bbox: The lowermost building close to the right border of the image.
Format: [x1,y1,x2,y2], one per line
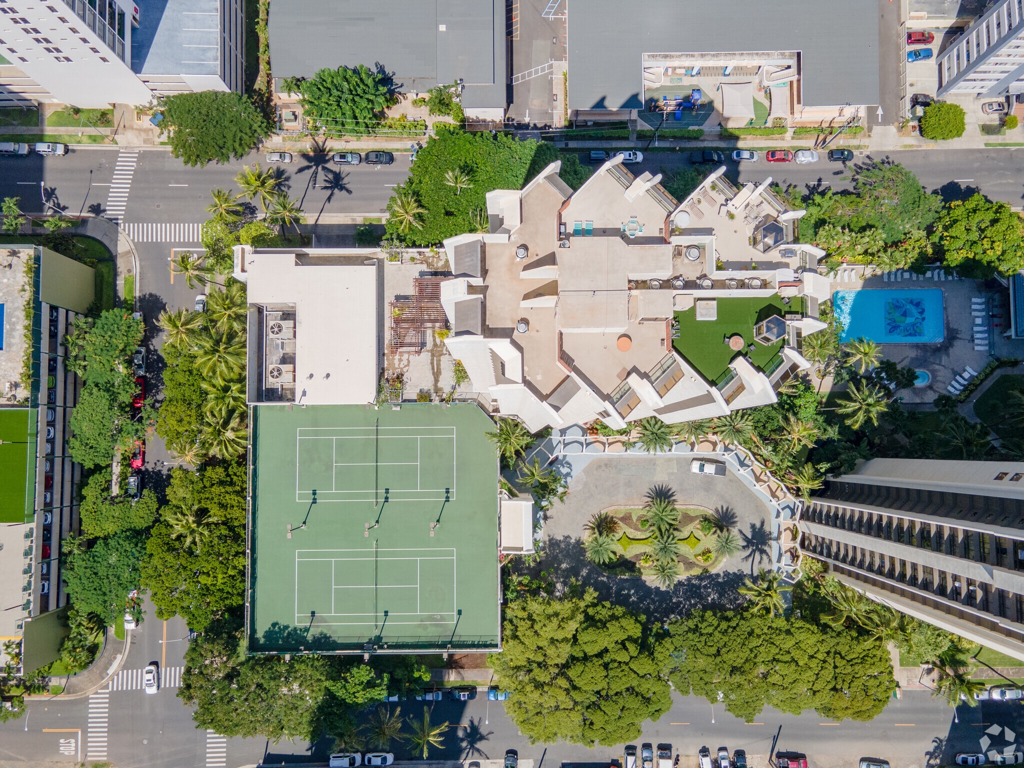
[801,458,1024,652]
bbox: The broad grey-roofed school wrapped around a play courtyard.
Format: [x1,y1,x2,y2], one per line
[567,0,879,132]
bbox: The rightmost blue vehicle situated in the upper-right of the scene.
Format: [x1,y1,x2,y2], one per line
[905,48,934,64]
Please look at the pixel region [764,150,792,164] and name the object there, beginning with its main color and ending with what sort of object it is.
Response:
red car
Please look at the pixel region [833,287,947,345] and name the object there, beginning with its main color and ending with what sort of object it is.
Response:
blue swimming pool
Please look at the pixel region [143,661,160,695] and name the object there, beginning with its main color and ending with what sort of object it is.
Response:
white car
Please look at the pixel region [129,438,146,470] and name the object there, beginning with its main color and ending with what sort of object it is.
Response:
red vehicle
